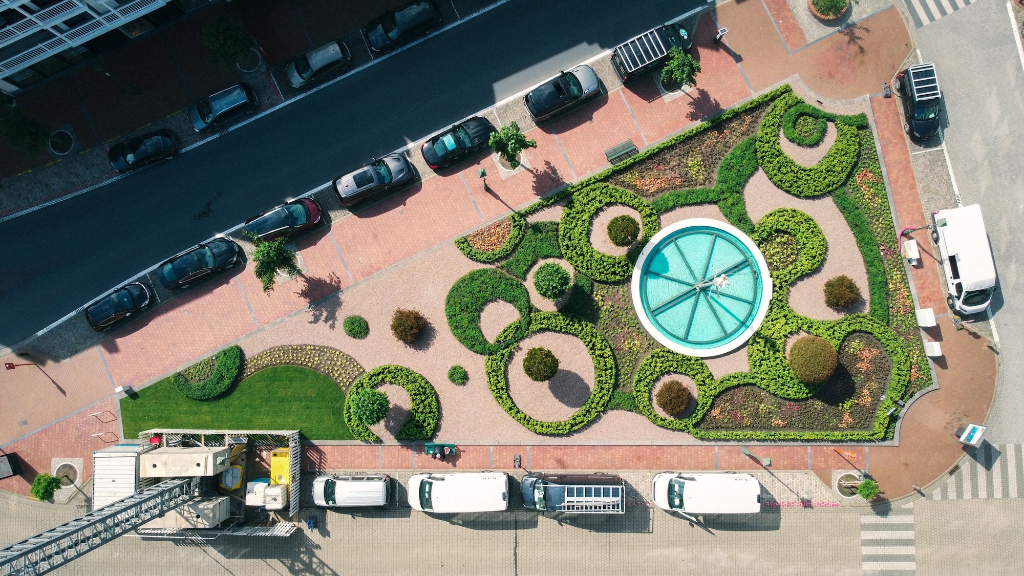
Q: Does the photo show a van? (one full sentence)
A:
Yes, looking at the shot, I can spot a van.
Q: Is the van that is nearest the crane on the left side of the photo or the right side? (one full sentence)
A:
It is on the left.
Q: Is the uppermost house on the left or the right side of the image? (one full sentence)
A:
The uppermost house appears in the left half of the scene.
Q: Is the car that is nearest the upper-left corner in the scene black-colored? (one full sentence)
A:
Yes, the car that is nearest the upper-left corner is indeed black.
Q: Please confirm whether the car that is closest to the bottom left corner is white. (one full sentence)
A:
No, from above the car that is closest to the bottom left corner looks black.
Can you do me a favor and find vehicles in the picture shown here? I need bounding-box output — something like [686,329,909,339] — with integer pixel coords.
[285,37,355,89]
[408,471,511,513]
[243,200,324,248]
[109,128,180,173]
[84,282,156,331]
[923,207,990,317]
[333,152,414,205]
[156,238,244,291]
[520,472,624,512]
[892,60,945,145]
[650,472,767,524]
[610,25,695,86]
[422,117,498,169]
[187,82,262,134]
[523,65,604,123]
[313,472,393,510]
[363,0,444,52]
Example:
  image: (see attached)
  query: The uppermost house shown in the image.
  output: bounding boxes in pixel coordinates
[0,0,197,88]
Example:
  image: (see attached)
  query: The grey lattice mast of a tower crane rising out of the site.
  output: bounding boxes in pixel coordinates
[0,476,221,576]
